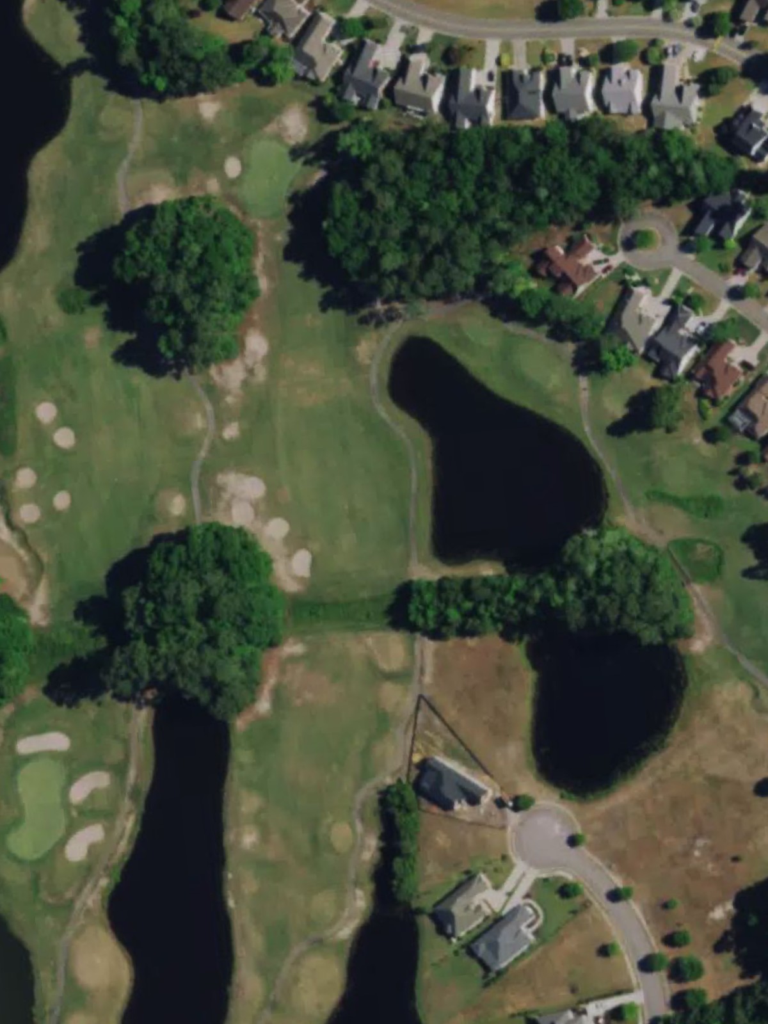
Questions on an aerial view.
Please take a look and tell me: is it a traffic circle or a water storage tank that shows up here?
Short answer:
traffic circle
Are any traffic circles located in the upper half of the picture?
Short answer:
Yes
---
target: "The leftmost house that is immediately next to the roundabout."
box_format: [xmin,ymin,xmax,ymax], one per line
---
[543,233,598,298]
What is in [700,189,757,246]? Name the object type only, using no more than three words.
house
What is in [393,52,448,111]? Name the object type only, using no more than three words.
house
